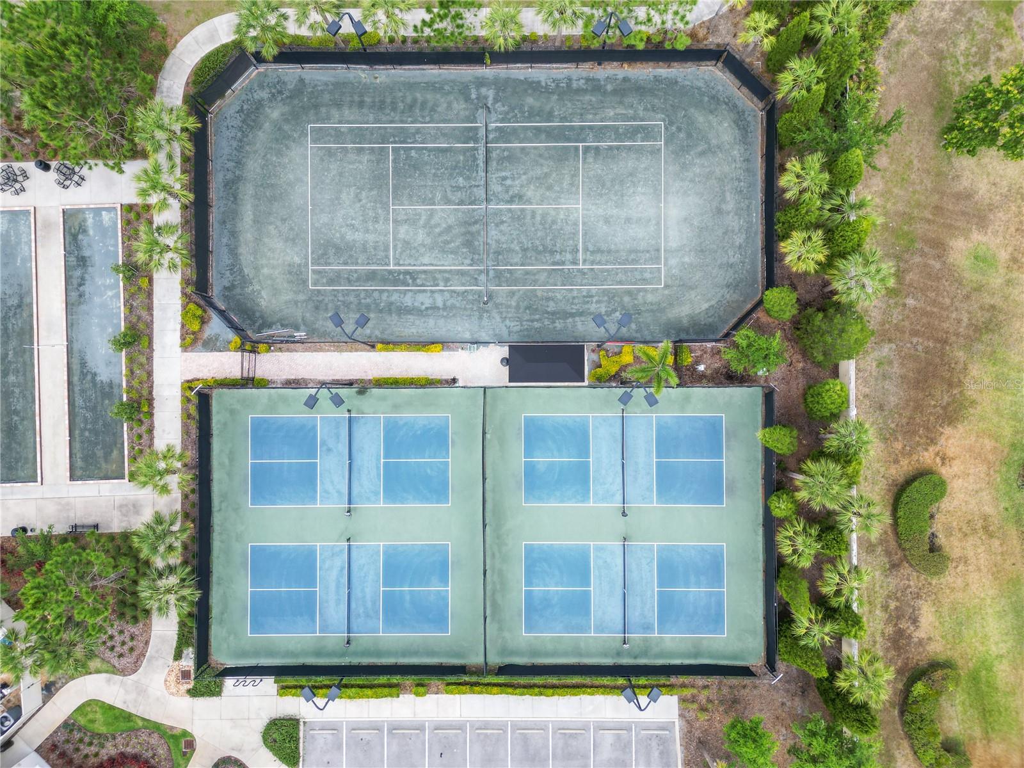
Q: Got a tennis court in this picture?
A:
Yes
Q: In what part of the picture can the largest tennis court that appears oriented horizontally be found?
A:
top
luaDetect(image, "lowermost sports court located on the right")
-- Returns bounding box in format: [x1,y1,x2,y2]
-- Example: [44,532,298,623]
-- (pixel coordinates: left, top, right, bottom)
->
[523,542,727,637]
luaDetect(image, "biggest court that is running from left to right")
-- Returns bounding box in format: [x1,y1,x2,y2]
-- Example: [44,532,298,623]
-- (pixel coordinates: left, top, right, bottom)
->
[211,66,763,342]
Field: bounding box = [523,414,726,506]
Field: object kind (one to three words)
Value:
sports court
